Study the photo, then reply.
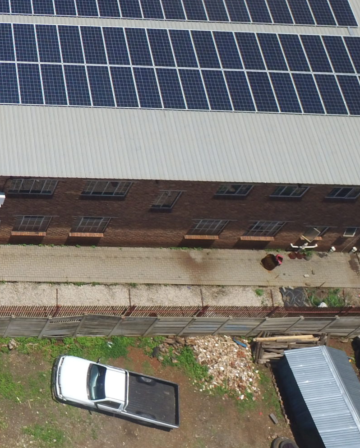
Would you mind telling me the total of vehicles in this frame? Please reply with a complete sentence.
In total, there is 1 vehicle in the scene.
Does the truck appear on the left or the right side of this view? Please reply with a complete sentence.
You can find the truck on the left side of the picture.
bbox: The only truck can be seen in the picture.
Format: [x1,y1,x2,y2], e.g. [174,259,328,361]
[45,359,190,441]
